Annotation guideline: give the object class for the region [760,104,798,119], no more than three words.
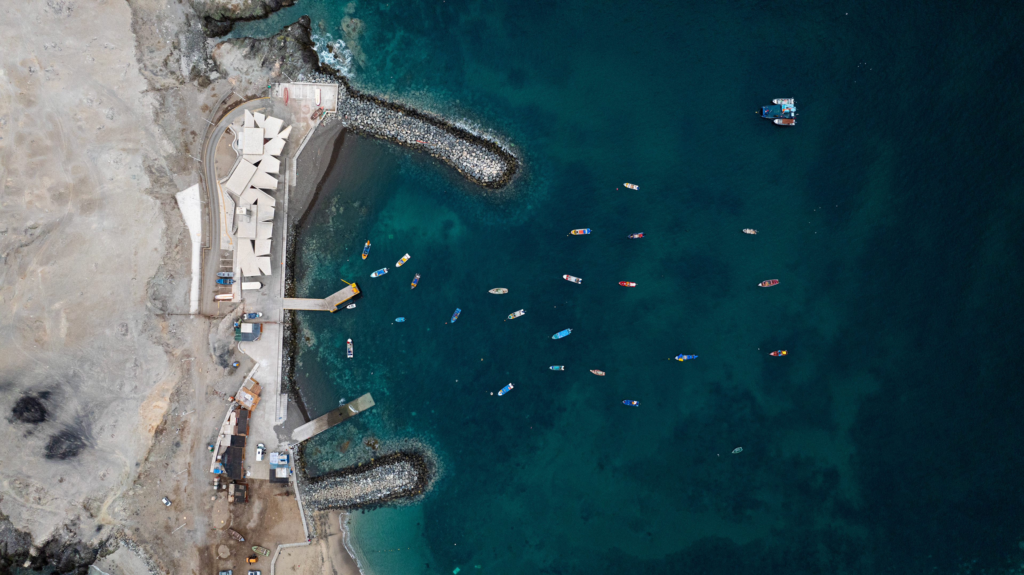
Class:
boat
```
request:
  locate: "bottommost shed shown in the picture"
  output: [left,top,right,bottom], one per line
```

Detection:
[228,480,250,503]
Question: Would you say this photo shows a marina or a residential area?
marina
